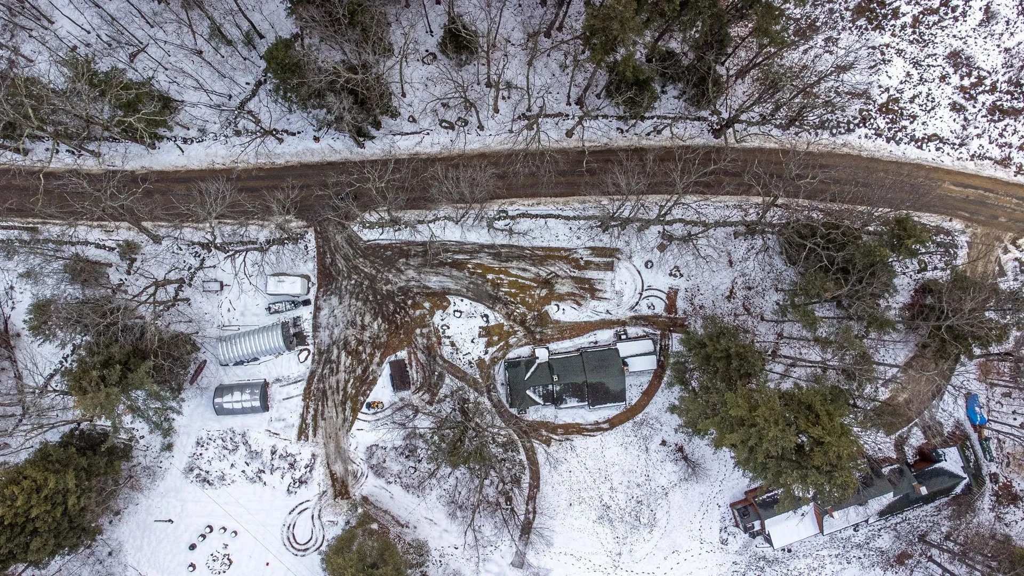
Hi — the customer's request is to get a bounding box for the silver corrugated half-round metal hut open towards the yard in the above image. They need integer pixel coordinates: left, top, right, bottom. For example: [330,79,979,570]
[211,320,289,367]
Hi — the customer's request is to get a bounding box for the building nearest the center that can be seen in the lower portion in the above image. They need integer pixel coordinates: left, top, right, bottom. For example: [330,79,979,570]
[504,327,657,415]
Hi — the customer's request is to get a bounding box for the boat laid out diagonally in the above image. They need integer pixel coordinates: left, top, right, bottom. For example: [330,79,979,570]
[190,361,206,384]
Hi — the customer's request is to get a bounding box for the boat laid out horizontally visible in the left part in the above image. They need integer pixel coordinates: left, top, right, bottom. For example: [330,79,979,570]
[262,300,301,315]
